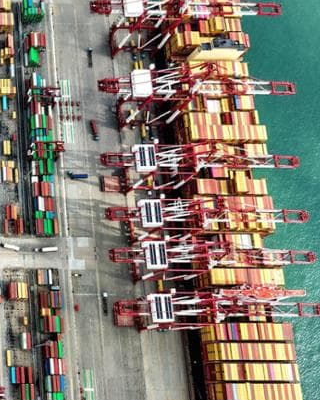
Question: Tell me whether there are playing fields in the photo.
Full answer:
No, no playing field is visible in the scene.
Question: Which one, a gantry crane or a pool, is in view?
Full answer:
It is a gantry crane that can be seen here.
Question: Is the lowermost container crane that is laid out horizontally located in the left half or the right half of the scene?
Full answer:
The lowermost container crane that is laid out horizontally is on the right side of the image.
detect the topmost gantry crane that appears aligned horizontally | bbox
[91,0,279,59]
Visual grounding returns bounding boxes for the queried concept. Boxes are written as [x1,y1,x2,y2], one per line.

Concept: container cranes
[26,140,62,159]
[103,138,302,198]
[116,282,320,335]
[108,193,311,248]
[26,86,61,107]
[91,0,279,59]
[111,233,318,285]
[97,64,291,132]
